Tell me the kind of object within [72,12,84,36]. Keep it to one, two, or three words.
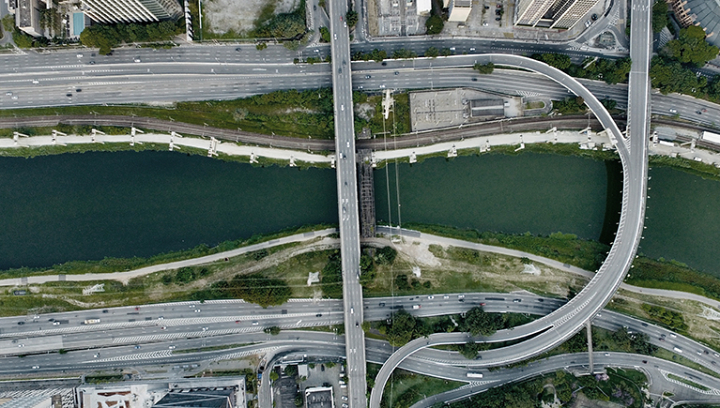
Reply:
swimming pool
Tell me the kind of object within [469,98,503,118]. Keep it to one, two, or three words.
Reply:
building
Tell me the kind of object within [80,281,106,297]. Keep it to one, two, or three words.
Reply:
pylon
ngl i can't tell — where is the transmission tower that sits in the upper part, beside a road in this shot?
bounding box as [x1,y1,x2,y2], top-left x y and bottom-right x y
[380,90,400,119]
